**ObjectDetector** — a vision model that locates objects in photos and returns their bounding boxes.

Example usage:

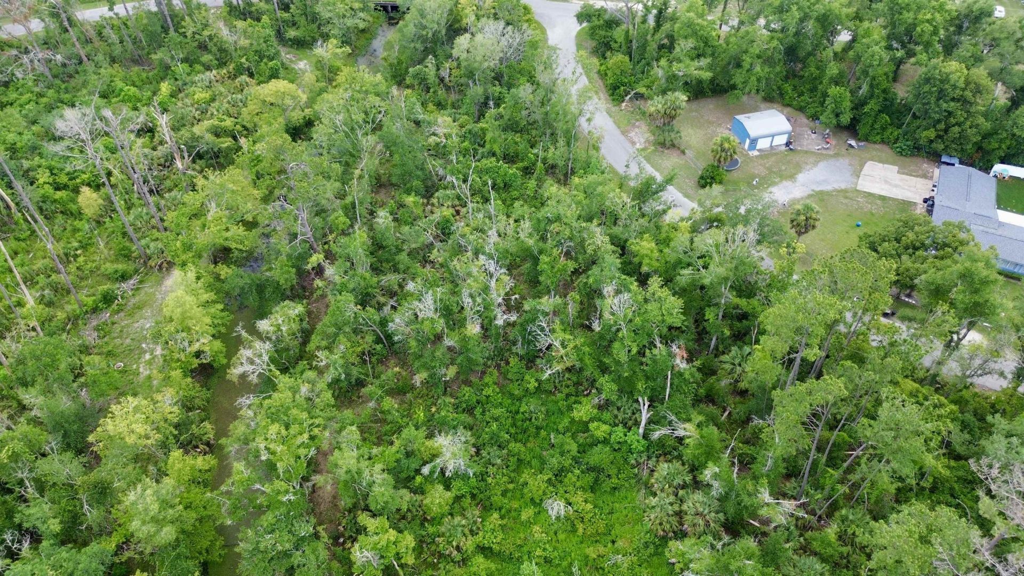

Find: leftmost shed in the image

[729,111,793,151]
